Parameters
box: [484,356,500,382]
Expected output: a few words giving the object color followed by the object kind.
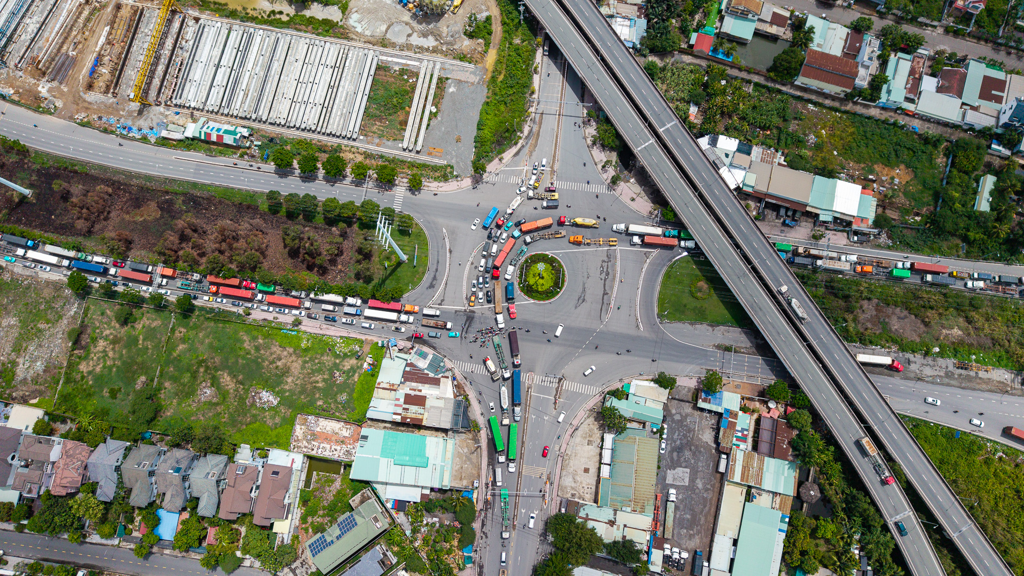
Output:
white vehicle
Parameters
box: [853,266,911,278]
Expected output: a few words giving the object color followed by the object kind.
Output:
green vehicle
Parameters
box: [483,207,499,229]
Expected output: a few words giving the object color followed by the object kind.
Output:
blue vehicle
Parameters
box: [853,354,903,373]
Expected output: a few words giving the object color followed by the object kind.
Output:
white vehicle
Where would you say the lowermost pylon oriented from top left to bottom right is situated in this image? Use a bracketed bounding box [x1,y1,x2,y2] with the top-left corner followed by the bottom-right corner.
[378,214,411,266]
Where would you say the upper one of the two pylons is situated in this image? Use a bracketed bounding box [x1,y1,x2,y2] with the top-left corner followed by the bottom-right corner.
[0,177,36,199]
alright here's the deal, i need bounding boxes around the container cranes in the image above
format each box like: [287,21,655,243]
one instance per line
[129,0,191,112]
